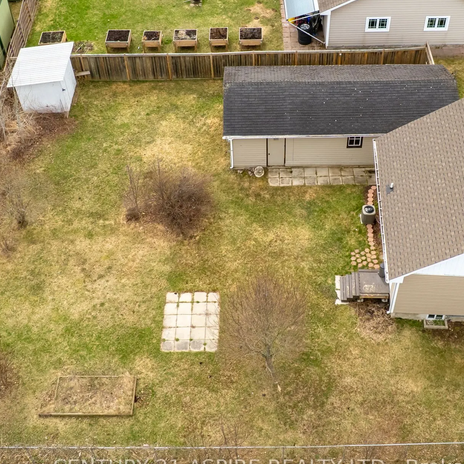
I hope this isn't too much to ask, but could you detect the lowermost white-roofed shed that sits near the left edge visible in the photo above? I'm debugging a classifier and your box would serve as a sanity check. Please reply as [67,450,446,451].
[7,40,83,113]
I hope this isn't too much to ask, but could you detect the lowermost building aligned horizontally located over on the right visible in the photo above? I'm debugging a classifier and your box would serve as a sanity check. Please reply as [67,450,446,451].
[222,65,460,172]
